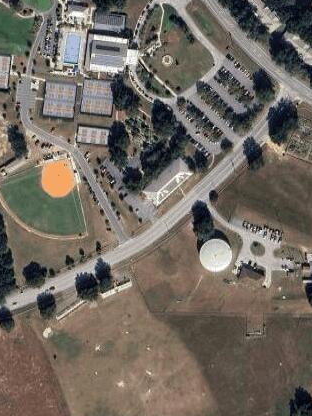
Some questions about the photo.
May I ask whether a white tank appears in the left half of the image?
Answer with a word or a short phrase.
No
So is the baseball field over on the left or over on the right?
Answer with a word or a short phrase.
left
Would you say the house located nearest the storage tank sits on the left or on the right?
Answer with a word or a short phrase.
right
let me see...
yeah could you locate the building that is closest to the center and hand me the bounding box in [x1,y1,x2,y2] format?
[139,158,194,204]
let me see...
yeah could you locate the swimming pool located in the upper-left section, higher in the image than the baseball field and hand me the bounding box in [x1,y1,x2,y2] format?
[64,32,81,64]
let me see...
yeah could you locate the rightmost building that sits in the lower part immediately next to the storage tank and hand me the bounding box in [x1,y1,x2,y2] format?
[239,262,266,281]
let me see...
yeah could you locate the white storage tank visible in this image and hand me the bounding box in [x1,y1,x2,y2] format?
[200,239,233,271]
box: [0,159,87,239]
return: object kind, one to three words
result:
baseball field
